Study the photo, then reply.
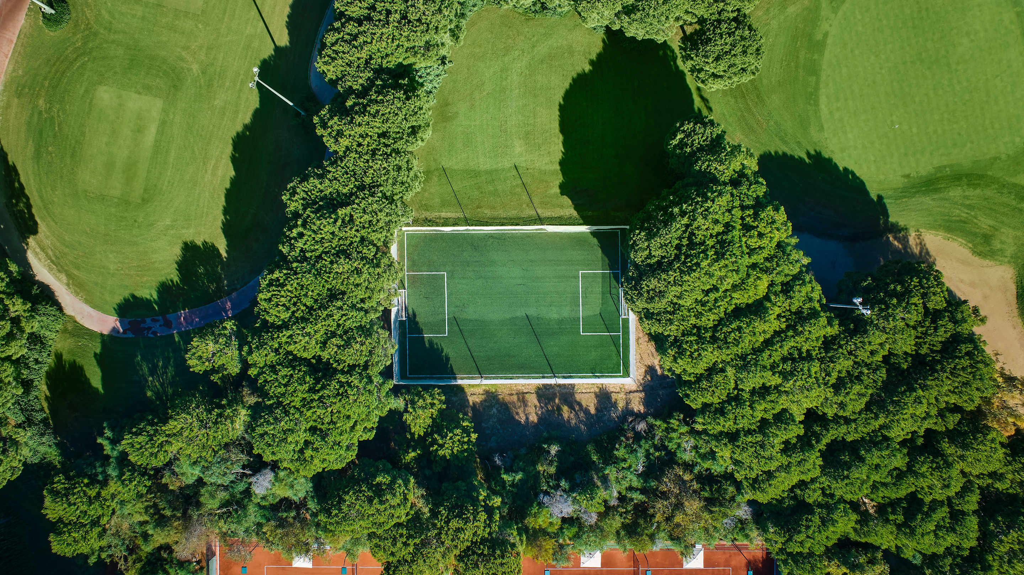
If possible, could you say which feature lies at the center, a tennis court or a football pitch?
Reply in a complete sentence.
Looking at the center, you will find a football pitch.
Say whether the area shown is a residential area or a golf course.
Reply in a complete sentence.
This image shows a golf course.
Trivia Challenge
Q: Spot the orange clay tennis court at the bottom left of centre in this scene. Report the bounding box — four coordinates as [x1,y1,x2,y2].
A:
[220,539,385,575]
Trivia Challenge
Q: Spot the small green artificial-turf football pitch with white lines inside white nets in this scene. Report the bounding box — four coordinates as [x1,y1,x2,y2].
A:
[398,229,630,379]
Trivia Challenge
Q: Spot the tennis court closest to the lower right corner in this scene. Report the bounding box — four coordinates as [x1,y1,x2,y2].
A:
[521,544,769,575]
